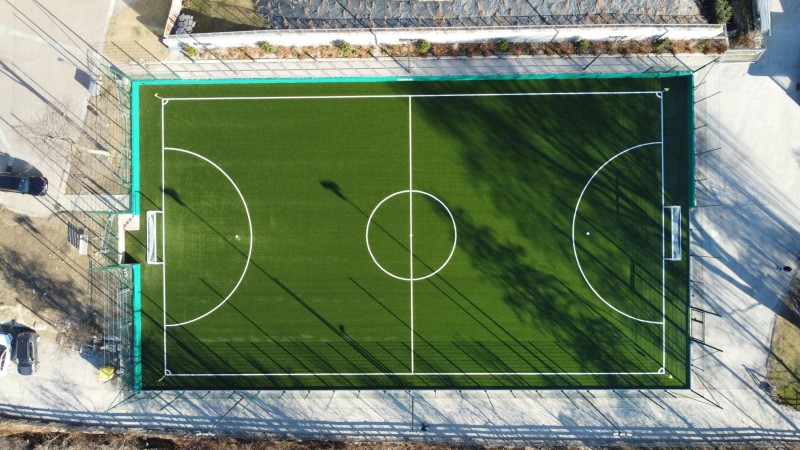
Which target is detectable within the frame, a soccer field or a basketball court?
soccer field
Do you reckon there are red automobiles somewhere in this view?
No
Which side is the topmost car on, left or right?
left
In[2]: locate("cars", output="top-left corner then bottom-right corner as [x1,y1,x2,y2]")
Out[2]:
[0,174,45,198]
[0,332,11,378]
[12,330,40,375]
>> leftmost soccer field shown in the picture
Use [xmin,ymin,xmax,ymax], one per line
[127,78,690,390]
